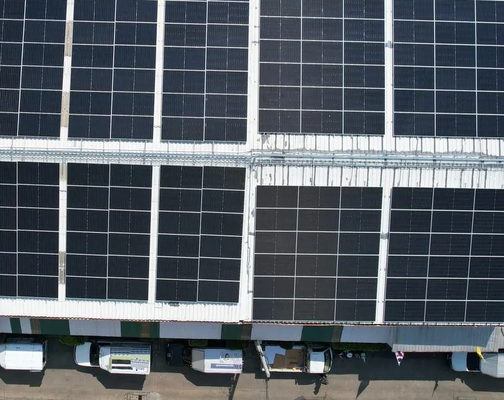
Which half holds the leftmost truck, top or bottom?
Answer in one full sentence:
The leftmost truck is in the bottom half of the image.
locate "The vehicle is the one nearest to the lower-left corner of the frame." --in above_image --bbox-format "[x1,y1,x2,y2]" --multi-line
[0,333,50,370]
